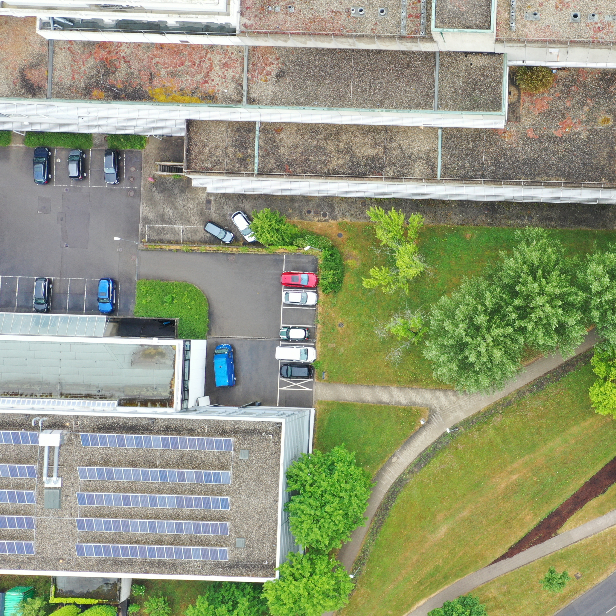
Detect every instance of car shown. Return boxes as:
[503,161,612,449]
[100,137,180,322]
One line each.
[229,210,259,245]
[282,363,315,380]
[102,149,123,185]
[97,278,117,313]
[32,278,53,312]
[283,290,318,307]
[204,220,236,244]
[274,345,317,363]
[281,270,318,288]
[32,148,53,184]
[279,325,309,342]
[67,150,87,180]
